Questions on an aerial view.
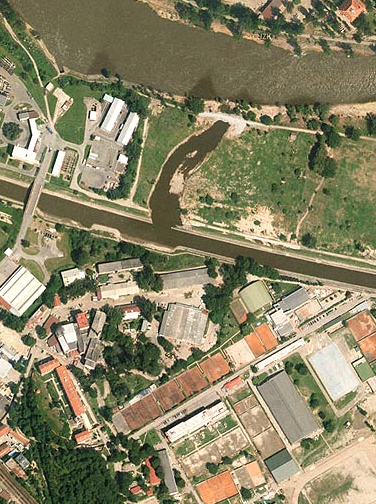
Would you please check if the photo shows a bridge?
Yes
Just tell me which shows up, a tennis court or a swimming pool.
tennis court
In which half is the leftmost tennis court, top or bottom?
bottom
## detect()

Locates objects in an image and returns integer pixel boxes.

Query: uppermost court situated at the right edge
[347,311,376,339]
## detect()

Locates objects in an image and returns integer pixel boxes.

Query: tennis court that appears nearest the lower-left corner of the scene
[121,393,164,430]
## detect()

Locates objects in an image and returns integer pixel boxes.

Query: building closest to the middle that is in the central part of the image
[155,266,211,293]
